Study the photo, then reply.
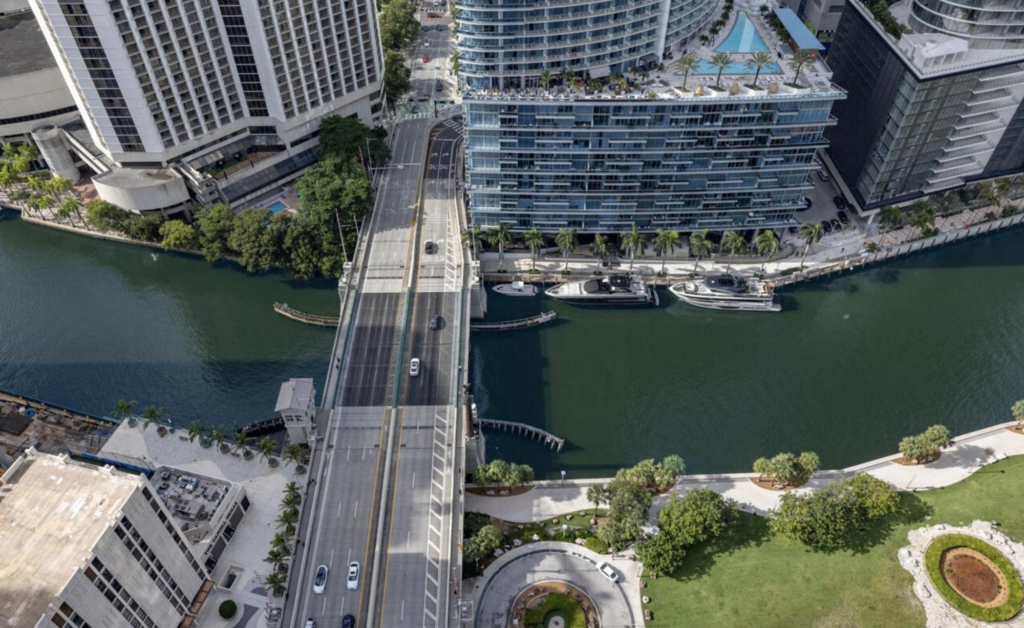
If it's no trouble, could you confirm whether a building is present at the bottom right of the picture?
No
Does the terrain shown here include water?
Yes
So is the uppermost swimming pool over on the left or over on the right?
right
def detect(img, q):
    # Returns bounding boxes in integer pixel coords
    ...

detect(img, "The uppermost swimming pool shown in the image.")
[714,11,771,53]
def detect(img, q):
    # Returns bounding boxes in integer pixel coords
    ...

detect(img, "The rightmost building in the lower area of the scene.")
[270,376,313,454]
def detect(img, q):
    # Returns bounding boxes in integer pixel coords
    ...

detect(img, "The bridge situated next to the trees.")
[268,119,489,628]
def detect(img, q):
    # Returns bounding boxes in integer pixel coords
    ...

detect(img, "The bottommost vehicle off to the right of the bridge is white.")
[597,559,619,583]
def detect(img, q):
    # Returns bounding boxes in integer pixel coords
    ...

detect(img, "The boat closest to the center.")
[495,283,540,298]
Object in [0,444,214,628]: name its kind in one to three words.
building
